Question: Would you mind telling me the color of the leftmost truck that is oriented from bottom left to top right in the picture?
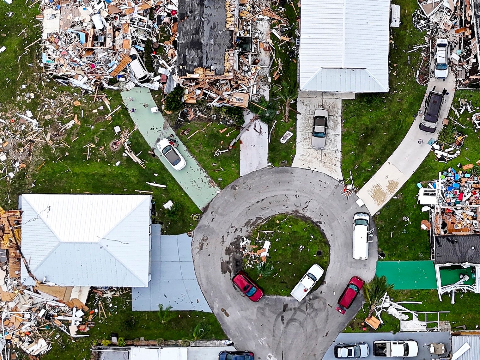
white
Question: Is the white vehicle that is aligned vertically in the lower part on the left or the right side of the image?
right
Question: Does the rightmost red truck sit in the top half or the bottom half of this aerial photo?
bottom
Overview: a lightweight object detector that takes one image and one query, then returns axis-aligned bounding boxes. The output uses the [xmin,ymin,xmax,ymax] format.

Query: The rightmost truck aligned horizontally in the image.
[372,339,419,360]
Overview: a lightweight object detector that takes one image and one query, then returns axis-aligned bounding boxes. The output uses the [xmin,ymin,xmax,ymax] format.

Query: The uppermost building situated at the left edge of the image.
[0,193,153,288]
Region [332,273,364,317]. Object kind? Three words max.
truck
